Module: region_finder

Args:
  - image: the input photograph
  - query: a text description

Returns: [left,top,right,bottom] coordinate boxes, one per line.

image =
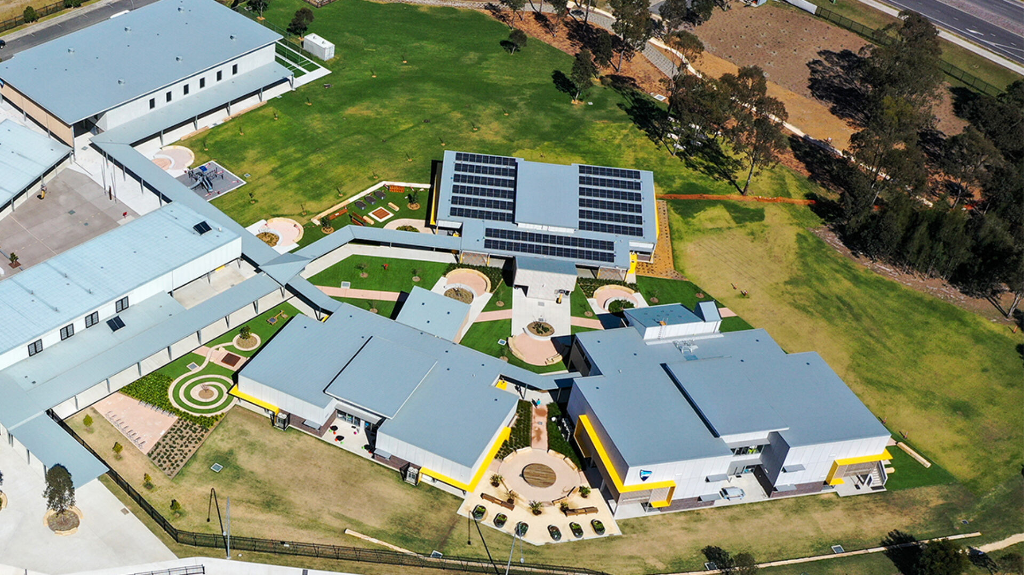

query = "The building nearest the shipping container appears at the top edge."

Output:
[0,0,283,162]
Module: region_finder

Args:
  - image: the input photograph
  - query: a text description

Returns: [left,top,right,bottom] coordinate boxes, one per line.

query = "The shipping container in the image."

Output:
[304,30,336,60]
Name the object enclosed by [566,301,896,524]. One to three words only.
building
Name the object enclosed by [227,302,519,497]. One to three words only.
building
